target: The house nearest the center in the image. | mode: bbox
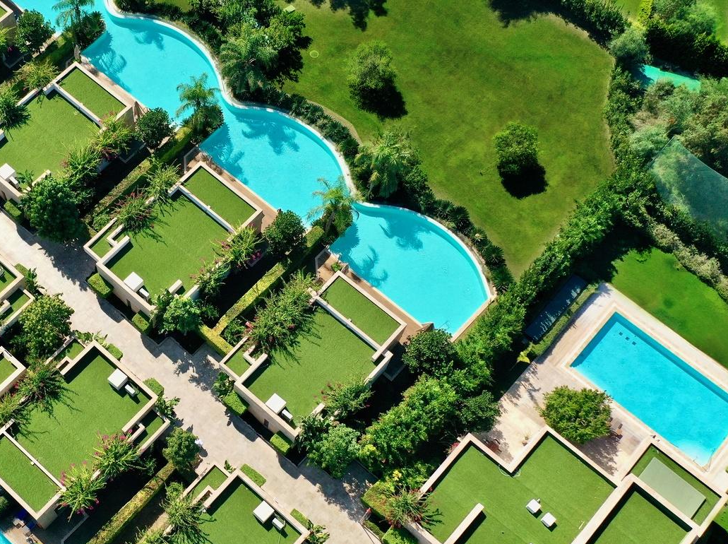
[222,272,407,448]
